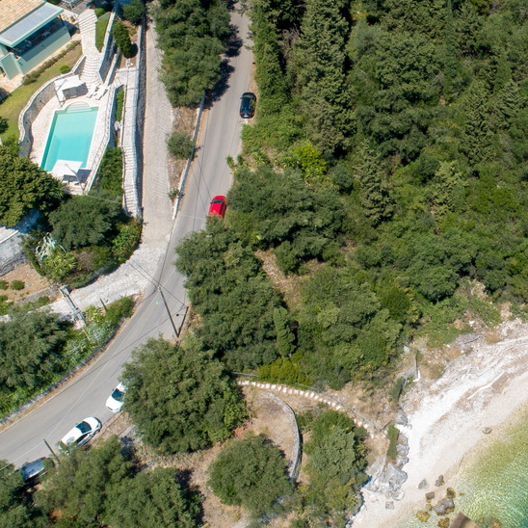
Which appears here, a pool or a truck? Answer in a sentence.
The image shows a pool.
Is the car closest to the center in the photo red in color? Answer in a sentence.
Yes, the car closest to the center is red.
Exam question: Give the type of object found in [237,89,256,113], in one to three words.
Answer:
car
